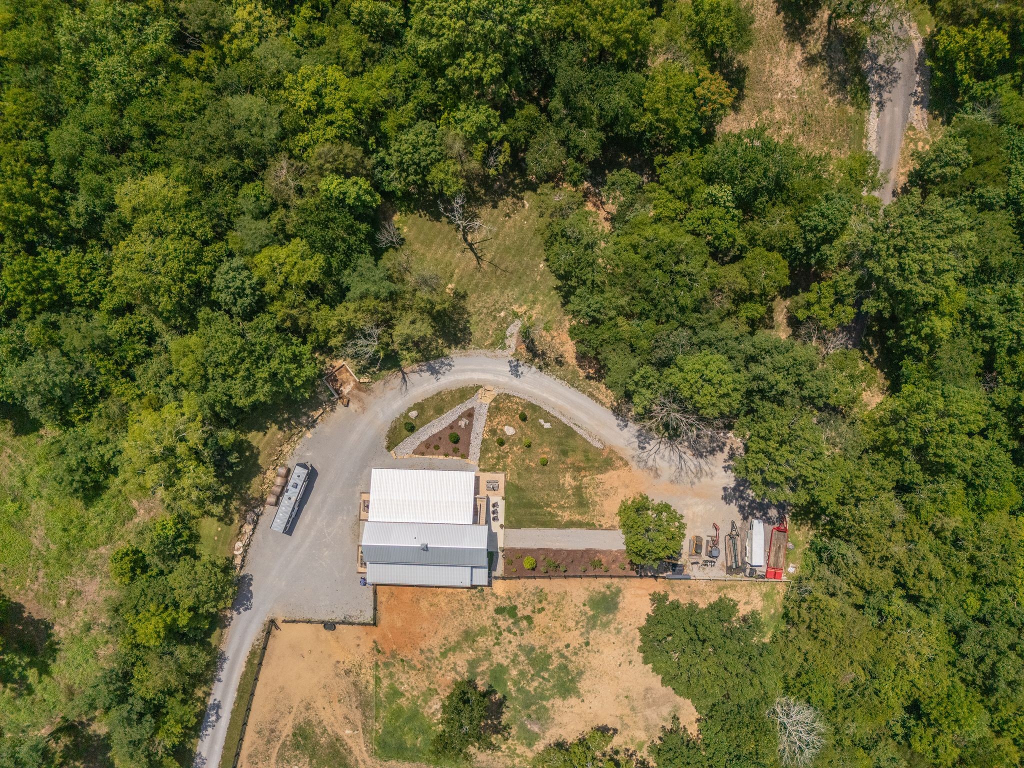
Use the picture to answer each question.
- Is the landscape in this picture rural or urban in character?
rural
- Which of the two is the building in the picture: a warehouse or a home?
home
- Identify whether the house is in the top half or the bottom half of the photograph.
bottom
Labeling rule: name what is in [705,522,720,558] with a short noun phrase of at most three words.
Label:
work vehicle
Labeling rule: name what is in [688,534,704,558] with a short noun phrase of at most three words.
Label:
work vehicle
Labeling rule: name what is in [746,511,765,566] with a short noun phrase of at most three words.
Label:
trailer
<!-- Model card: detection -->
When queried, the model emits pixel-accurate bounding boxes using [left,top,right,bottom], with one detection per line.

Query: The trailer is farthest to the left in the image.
[270,455,314,533]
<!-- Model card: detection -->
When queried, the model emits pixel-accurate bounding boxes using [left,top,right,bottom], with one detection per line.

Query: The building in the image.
[362,468,488,587]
